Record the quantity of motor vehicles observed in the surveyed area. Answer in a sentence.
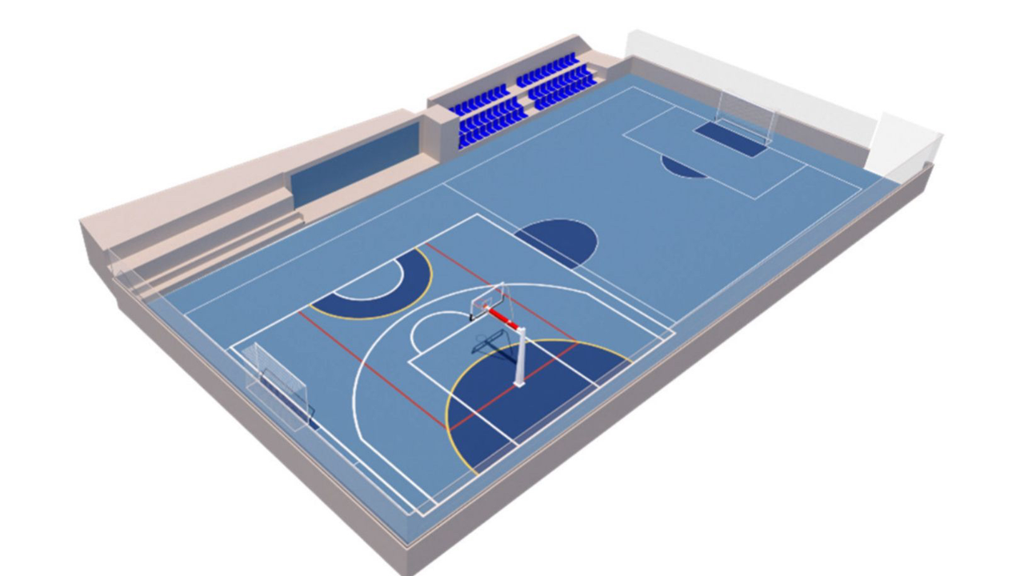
Not a single motor vehicle can be seen.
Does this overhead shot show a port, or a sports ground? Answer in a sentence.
What you see here is a sports ground.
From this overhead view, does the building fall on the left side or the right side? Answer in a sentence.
The building sits on the left side.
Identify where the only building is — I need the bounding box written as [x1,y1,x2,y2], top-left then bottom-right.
[80,109,441,304]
